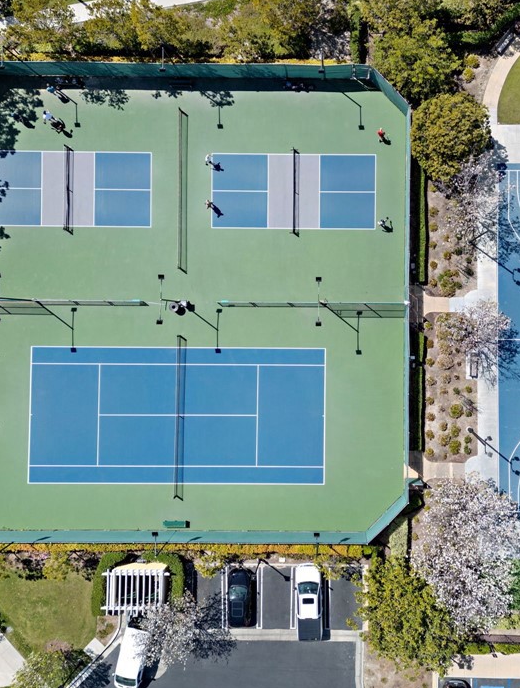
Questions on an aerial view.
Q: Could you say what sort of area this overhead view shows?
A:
sports ground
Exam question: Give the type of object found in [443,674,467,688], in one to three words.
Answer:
car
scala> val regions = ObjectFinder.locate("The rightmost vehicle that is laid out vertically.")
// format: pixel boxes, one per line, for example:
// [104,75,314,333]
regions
[294,560,324,640]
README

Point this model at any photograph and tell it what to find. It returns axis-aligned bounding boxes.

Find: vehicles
[294,560,324,640]
[111,624,149,688]
[225,562,254,624]
[443,674,467,688]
